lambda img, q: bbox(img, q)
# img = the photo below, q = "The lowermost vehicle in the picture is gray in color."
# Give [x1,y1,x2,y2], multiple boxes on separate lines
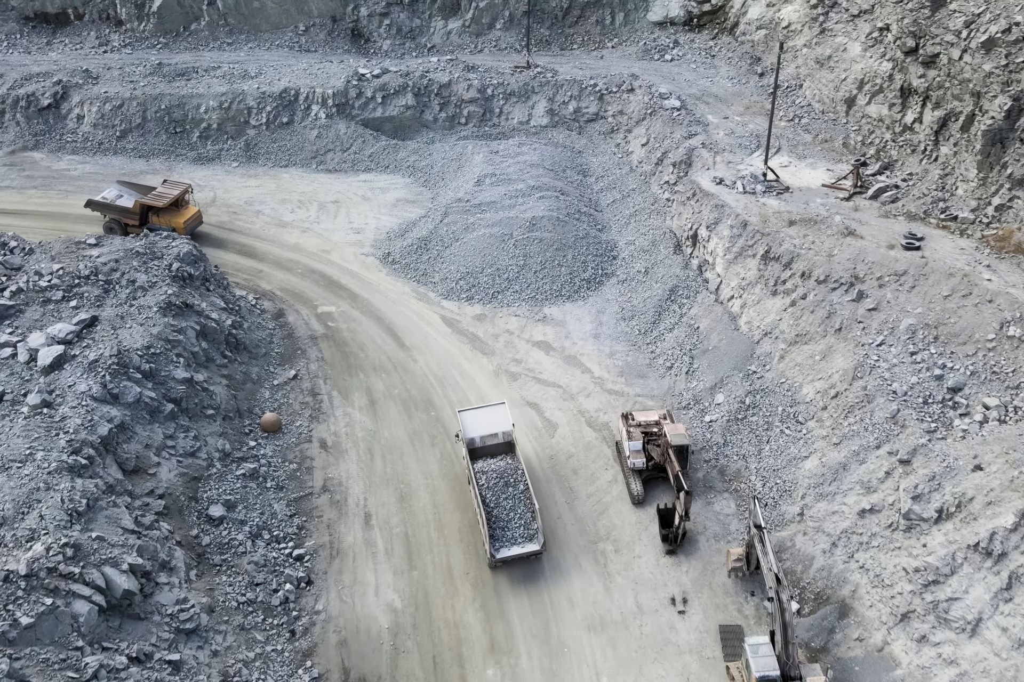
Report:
[720,494,828,682]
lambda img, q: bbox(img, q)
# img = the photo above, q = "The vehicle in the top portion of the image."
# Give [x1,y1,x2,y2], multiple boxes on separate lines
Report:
[77,179,207,246]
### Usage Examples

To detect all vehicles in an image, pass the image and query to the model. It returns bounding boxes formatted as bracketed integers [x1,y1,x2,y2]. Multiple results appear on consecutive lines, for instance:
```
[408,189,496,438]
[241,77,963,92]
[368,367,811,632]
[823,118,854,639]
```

[447,404,546,572]
[612,413,697,544]
[720,494,828,682]
[77,179,207,246]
